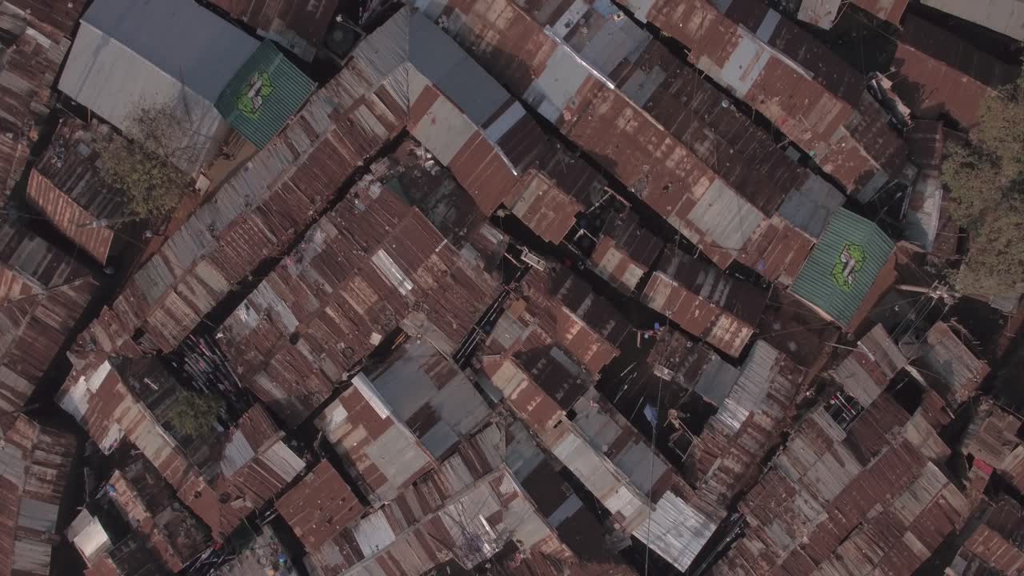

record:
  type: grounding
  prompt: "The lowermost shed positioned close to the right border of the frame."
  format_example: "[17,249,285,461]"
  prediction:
[931,543,992,576]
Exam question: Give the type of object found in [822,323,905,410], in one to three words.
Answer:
shed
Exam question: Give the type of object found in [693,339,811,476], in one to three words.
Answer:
house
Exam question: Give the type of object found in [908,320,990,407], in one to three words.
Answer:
shed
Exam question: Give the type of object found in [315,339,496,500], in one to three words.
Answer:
house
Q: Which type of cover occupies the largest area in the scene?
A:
buildings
